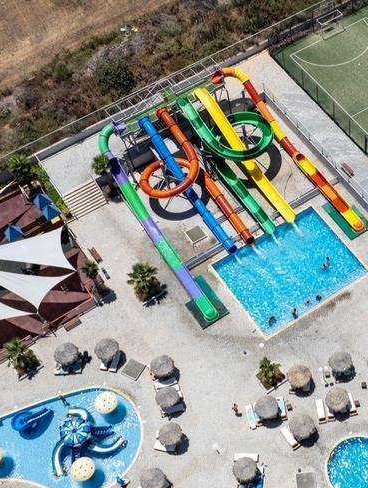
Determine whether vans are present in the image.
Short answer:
No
